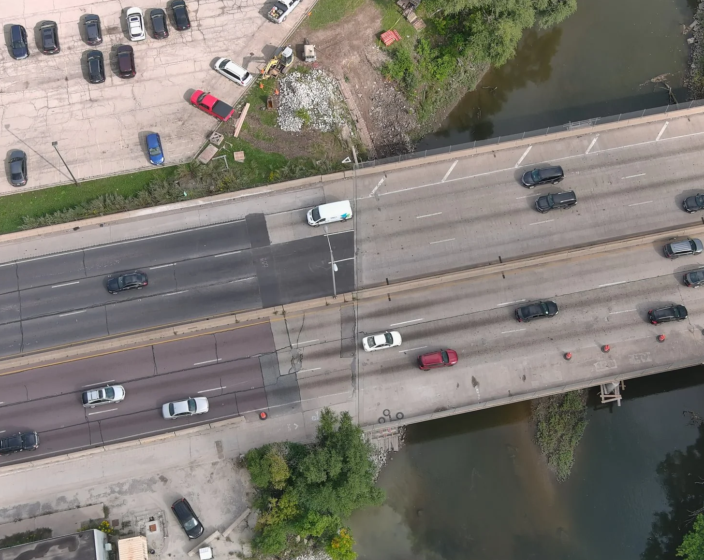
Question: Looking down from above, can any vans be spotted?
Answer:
Yes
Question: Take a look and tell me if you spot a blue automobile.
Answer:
Yes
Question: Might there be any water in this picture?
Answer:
Yes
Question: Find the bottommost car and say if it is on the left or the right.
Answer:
left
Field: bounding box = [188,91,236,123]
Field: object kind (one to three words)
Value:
truck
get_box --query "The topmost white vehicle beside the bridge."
[306,196,353,227]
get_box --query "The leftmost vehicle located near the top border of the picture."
[7,22,30,60]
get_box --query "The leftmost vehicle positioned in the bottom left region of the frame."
[0,432,40,458]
